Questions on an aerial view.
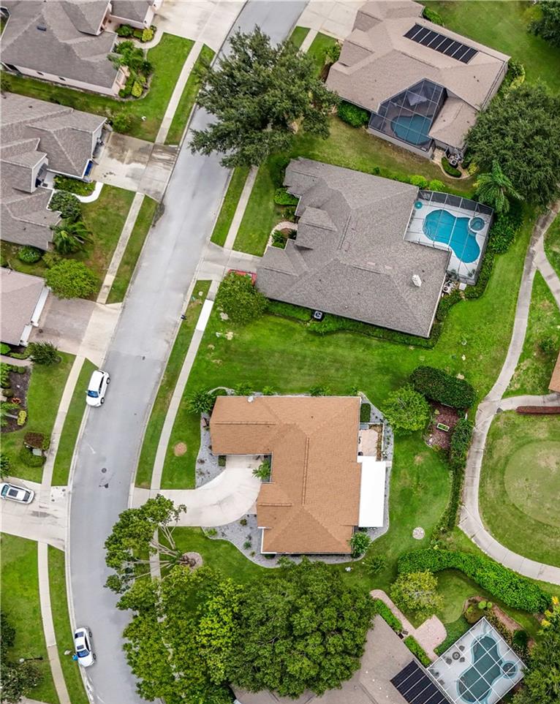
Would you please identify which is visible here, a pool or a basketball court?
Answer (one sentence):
Visible in the photo is a pool.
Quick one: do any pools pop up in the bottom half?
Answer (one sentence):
Yes, I can see a pool in the bottom half.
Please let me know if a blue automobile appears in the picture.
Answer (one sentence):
No, the scene contains no blue automobile.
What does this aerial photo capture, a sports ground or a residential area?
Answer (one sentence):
The area seen from above is a residential area.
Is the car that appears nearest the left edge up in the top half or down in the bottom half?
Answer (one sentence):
The car that appears nearest the left edge sits in the bottom half of the picture.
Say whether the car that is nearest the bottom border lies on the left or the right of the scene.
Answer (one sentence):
The car that is nearest the bottom border appears in the left half of the scene.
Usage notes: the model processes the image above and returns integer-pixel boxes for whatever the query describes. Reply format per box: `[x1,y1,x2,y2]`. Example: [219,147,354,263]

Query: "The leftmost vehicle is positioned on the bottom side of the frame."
[0,483,37,505]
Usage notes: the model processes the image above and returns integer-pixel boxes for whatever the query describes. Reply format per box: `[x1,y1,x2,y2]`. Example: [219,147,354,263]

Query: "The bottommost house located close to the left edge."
[0,269,55,351]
